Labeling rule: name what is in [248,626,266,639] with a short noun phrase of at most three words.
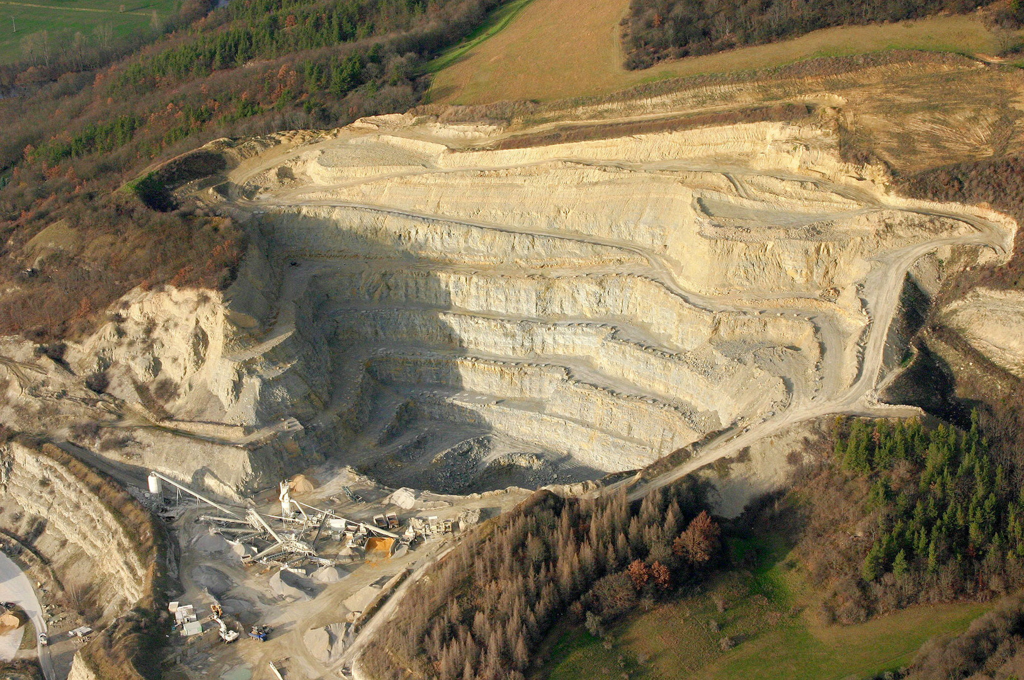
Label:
vehicle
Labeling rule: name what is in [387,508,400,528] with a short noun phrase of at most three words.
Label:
vehicle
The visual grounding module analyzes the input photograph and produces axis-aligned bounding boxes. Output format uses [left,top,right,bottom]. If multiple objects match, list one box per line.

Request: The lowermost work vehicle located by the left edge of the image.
[35,631,48,650]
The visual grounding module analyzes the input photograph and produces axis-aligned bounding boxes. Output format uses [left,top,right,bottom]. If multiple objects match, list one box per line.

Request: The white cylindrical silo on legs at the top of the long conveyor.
[145,476,165,515]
